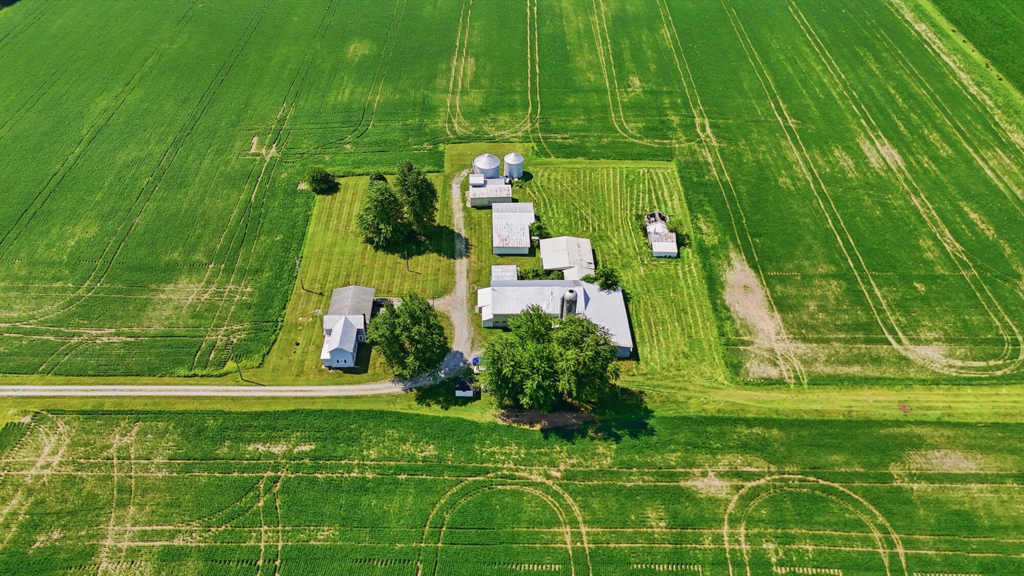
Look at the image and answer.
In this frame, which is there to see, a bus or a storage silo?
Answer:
storage silo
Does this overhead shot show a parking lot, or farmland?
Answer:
farmland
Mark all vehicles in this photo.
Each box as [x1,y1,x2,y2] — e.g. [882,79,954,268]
[473,358,485,368]
[378,298,398,308]
[473,366,484,376]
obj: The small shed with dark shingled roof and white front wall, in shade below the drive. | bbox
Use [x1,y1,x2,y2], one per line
[453,378,475,396]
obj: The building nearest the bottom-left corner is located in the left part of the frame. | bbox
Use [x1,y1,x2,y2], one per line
[320,281,376,373]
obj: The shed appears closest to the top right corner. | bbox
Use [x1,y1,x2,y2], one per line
[643,212,676,257]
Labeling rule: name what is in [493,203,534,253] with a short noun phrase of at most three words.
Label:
shed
